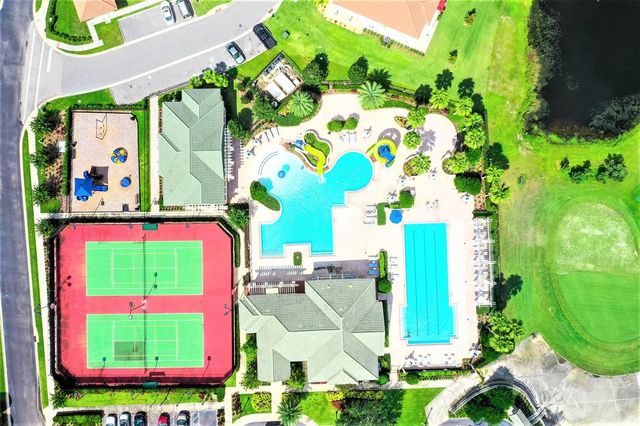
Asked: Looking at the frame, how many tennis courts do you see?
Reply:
1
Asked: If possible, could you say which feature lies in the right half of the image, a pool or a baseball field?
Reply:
pool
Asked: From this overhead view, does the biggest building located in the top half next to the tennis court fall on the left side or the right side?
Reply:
left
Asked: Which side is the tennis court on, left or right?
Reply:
left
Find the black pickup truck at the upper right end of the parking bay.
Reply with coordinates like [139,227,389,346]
[253,22,277,51]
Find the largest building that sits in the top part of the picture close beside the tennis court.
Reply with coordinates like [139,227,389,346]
[158,89,225,206]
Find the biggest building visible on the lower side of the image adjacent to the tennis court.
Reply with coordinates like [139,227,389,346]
[239,279,386,387]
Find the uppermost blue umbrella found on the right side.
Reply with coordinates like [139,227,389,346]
[389,209,402,222]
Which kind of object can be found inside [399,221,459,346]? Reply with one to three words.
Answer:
swimming pool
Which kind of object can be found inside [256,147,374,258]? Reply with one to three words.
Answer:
swimming pool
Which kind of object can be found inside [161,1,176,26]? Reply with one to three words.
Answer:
car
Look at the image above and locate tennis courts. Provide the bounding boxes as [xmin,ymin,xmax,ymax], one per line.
[58,223,232,384]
